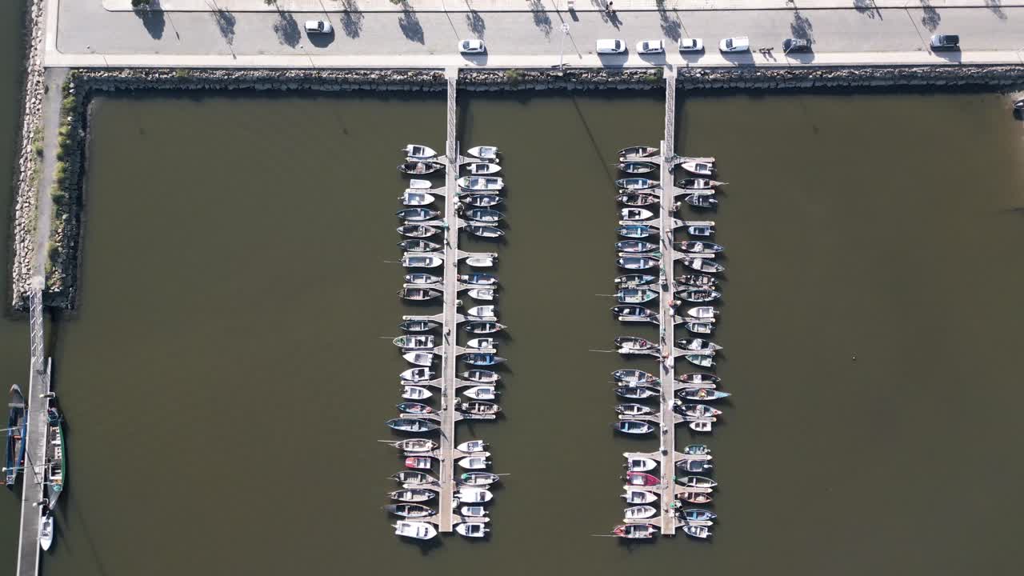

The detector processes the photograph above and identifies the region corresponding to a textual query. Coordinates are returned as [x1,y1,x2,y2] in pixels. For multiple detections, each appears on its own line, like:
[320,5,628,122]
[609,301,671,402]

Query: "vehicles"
[305,19,333,35]
[929,34,960,49]
[459,39,486,54]
[637,40,665,54]
[718,37,750,52]
[596,38,625,54]
[781,38,811,53]
[677,38,702,52]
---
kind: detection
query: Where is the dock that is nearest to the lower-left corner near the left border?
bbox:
[17,356,53,576]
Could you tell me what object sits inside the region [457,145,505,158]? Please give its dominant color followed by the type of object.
white boat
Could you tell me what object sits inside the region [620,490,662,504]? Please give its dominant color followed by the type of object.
white boat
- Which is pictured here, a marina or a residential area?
marina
